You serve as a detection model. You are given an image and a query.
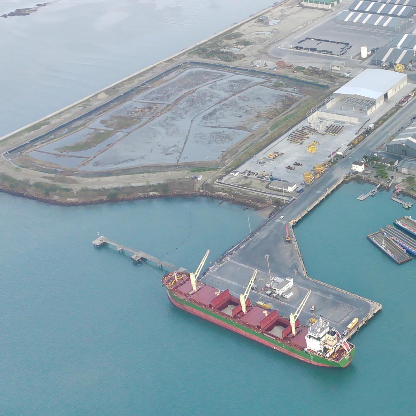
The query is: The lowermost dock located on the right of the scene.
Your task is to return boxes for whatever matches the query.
[198,223,382,339]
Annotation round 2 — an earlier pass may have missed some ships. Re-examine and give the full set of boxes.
[167,248,358,369]
[394,214,416,237]
[381,226,416,255]
[368,229,411,265]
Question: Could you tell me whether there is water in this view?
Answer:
Yes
